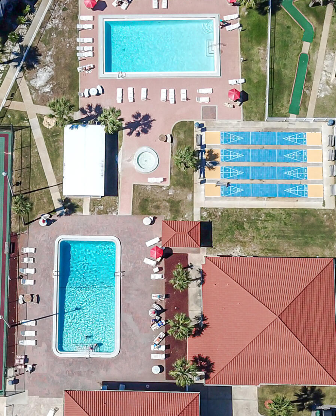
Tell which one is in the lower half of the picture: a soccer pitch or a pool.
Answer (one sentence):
Visible in the lower half of the picture is a pool.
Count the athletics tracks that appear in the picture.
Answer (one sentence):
I count no athletics tracks.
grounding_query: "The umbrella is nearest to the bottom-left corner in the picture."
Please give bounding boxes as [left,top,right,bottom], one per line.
[149,246,163,259]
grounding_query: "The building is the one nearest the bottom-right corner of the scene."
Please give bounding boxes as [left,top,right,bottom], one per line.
[186,256,336,385]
